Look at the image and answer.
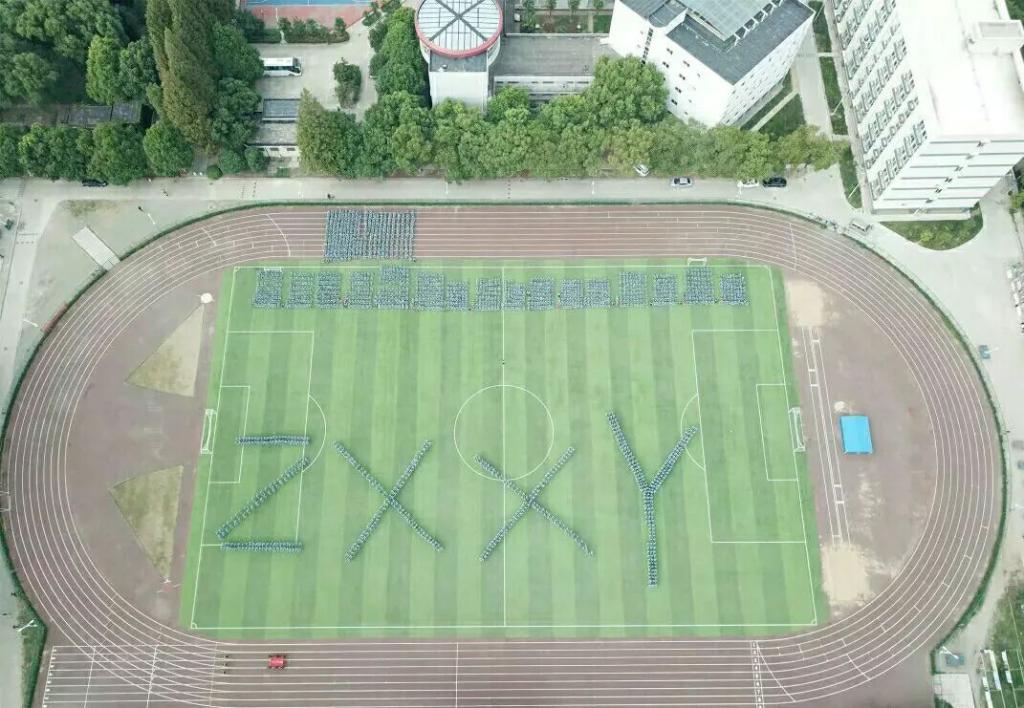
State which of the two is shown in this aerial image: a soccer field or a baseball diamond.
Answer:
soccer field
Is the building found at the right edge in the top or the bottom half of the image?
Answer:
top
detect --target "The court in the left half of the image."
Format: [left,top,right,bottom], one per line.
[247,0,372,28]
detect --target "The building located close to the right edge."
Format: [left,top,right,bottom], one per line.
[833,0,1024,212]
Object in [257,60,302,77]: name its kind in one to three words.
vehicle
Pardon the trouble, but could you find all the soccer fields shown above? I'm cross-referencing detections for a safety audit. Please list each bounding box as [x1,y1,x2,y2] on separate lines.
[179,259,826,640]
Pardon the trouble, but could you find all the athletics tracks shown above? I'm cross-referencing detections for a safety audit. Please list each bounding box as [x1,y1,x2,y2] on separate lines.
[0,205,1002,708]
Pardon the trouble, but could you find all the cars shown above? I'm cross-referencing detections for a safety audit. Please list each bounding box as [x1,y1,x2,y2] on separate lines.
[670,177,693,188]
[631,160,651,176]
[80,178,106,188]
[738,179,758,189]
[763,177,787,188]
